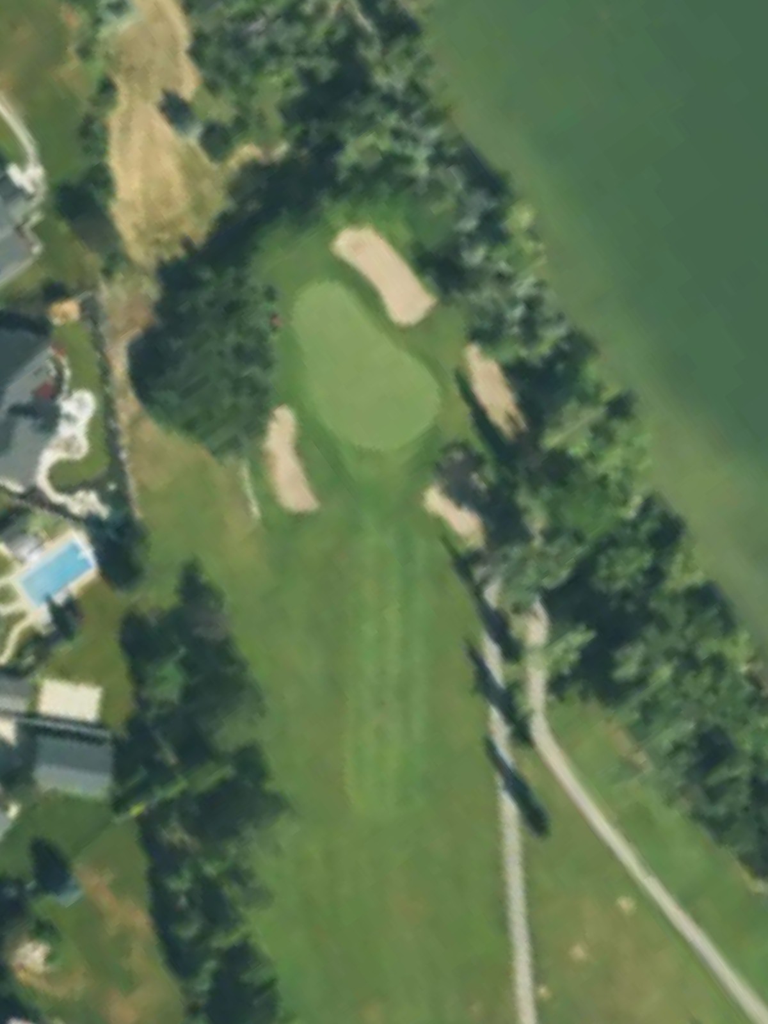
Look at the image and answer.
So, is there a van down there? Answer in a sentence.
No, there's no van here.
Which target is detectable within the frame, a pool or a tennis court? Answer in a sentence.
I can see a pool in this picture.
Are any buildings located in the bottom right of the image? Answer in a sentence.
No, no building appears in the bottom right of the image.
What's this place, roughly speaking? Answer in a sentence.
This looks like a golf course.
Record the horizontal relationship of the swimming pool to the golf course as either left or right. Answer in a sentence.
The swimming pool is to the left of the golf course.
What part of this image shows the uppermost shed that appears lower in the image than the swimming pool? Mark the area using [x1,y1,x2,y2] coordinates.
[0,674,31,716]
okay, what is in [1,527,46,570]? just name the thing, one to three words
building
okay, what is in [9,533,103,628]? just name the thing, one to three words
swimming pool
